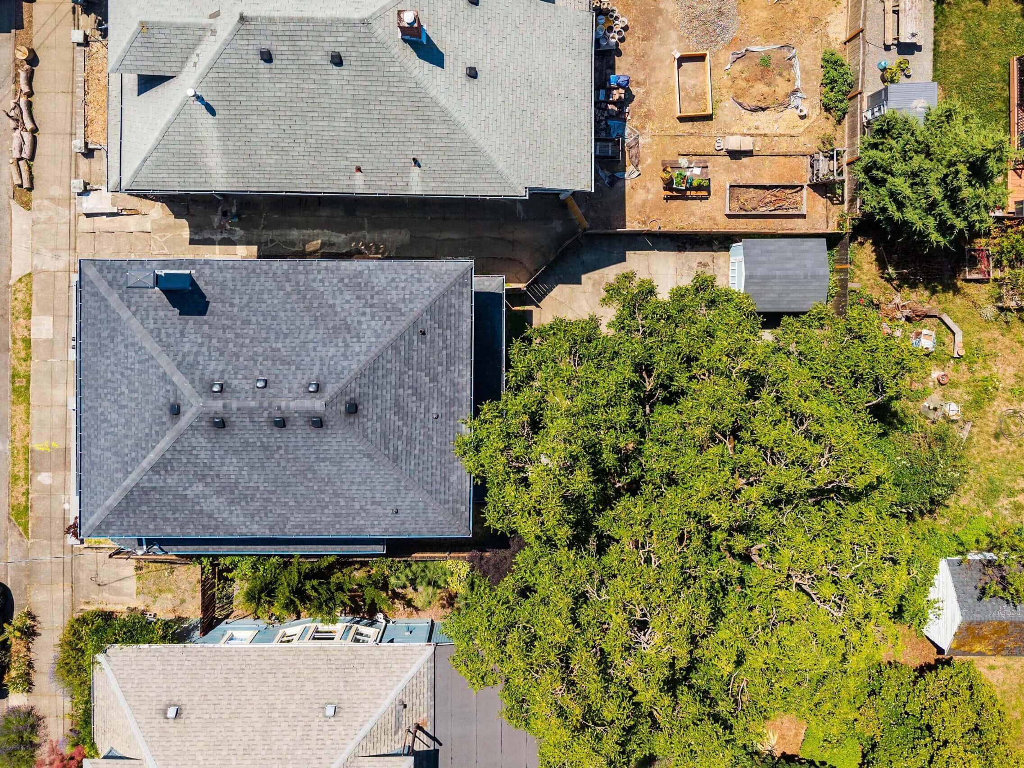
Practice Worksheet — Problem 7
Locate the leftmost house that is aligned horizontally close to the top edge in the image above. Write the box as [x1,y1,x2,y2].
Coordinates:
[105,0,596,202]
